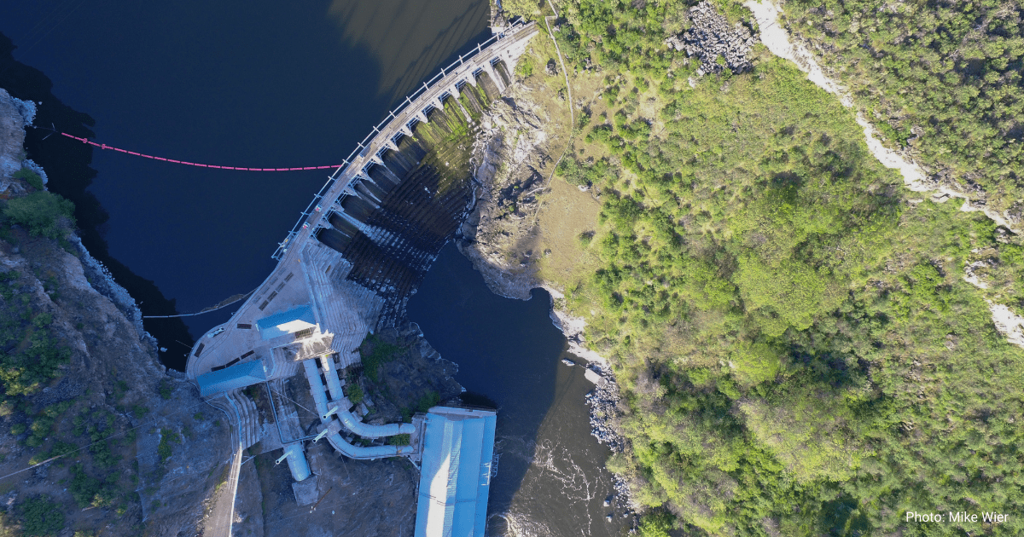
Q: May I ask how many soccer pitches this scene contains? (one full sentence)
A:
The photo contains no soccer pitches.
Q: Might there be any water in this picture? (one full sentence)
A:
Yes, water shows up in the scene.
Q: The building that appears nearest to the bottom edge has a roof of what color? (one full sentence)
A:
The roof over the building that appears nearest to the bottom edge appears blue.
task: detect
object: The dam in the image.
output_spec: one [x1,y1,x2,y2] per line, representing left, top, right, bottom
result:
[185,18,540,537]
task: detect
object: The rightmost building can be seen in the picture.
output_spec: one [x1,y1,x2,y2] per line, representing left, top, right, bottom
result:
[408,411,499,537]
